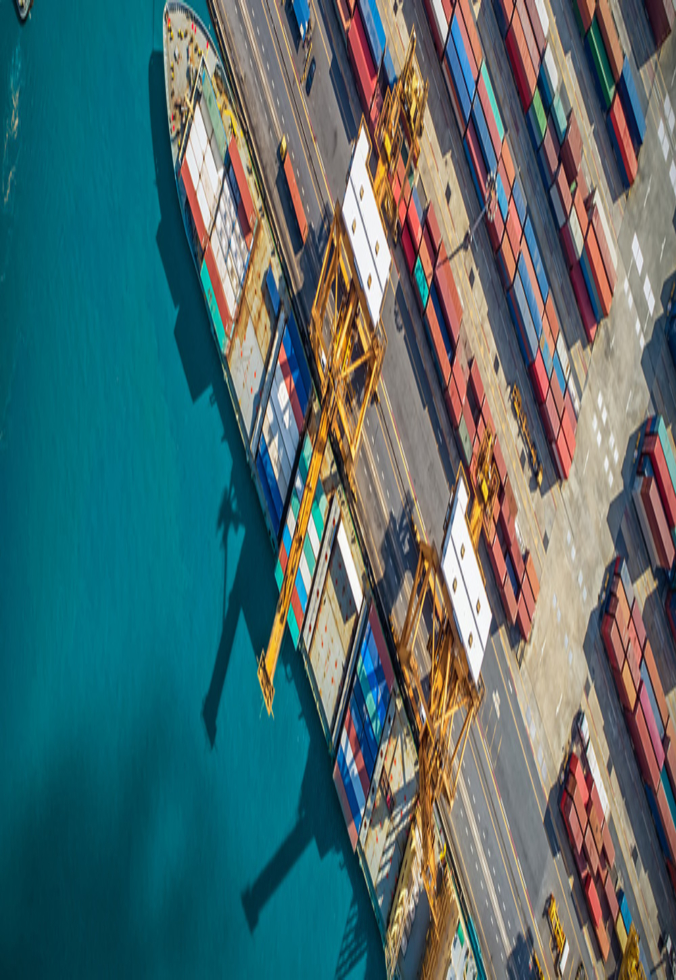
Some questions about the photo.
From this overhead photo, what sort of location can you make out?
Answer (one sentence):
This looks like a port.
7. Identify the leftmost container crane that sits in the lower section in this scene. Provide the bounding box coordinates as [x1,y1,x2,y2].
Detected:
[391,421,509,979]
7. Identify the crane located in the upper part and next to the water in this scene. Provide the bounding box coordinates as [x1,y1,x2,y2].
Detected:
[252,14,426,717]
